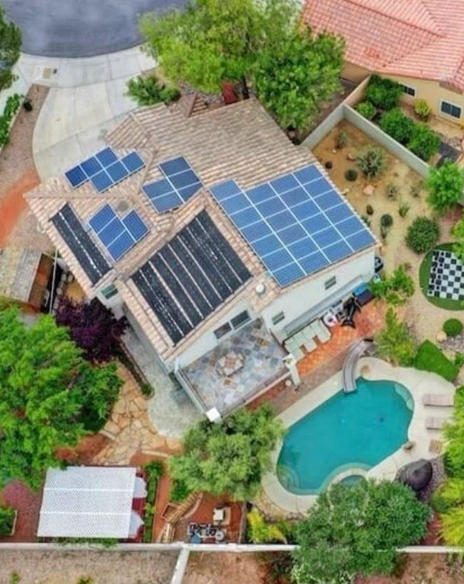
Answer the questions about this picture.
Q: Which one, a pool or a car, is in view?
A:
pool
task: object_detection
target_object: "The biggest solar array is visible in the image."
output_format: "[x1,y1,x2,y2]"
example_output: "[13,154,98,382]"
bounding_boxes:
[211,169,373,290]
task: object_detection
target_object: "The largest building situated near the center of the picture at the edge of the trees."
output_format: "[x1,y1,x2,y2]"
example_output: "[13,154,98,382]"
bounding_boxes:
[31,87,383,431]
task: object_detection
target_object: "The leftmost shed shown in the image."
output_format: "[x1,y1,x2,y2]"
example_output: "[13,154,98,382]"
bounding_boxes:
[0,252,53,311]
